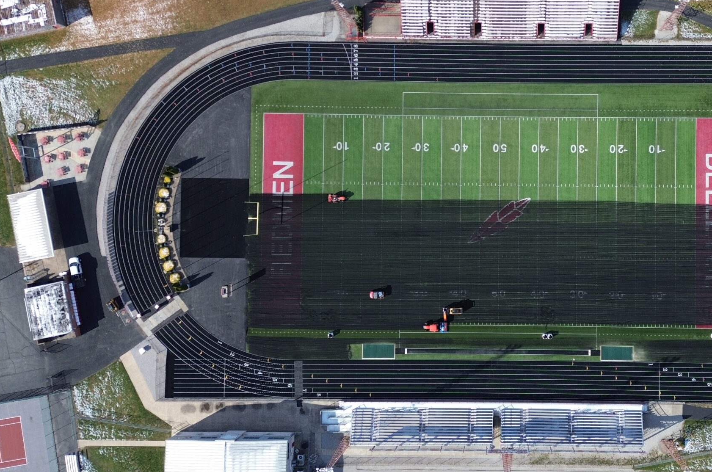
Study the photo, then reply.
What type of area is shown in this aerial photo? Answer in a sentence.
This image shows a sports ground.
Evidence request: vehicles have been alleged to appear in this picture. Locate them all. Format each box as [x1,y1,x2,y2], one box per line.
[70,259,85,286]
[422,322,440,333]
[328,195,345,202]
[369,292,384,299]
[103,297,117,311]
[450,309,464,316]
